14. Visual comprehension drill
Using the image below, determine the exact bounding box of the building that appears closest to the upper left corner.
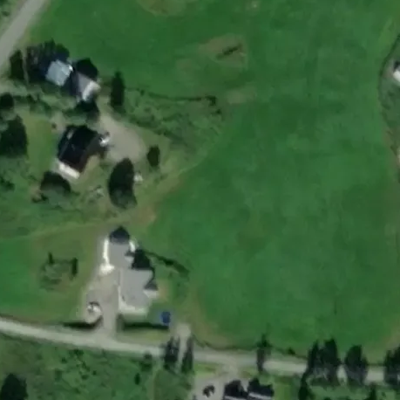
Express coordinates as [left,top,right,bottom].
[45,57,72,85]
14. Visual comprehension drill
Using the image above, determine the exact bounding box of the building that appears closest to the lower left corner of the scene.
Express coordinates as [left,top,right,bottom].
[100,238,158,313]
